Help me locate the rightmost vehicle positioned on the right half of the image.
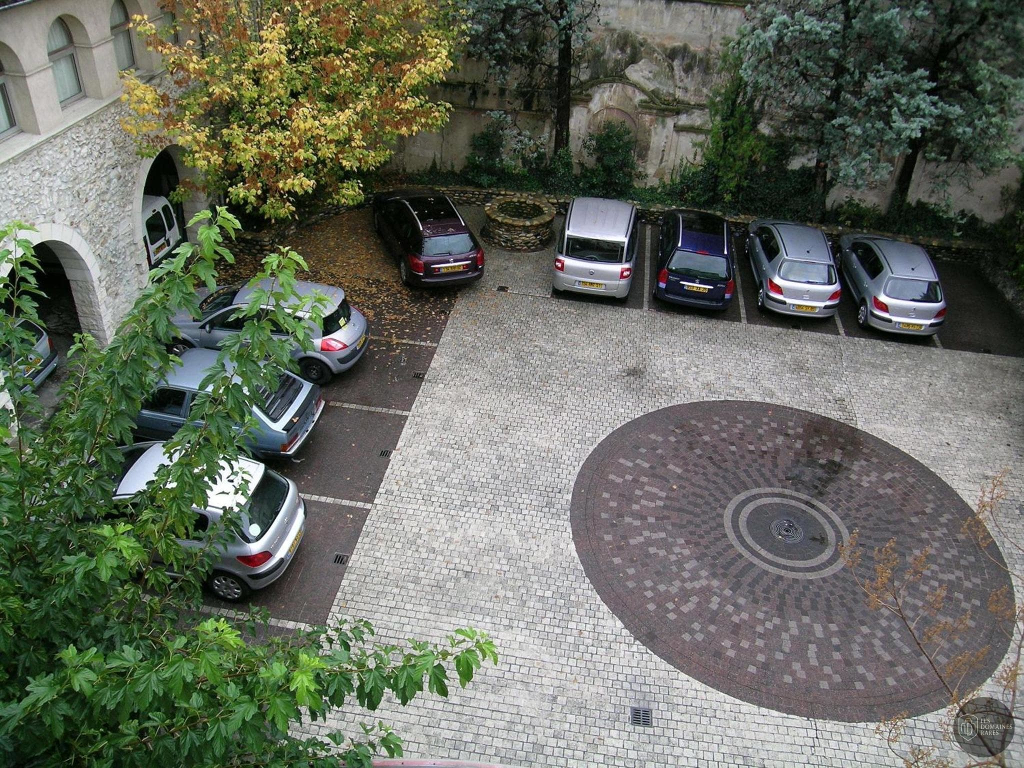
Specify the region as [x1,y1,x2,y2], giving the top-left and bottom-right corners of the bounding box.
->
[837,232,950,334]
